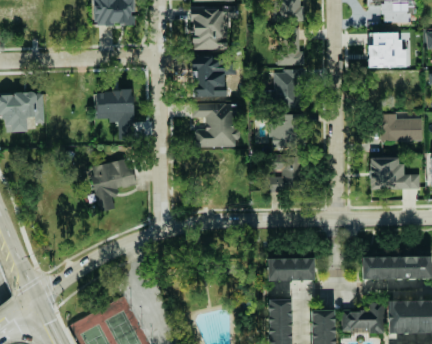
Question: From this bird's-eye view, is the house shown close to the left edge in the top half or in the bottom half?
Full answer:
Seen from above, the house shown close to the left edge lies in the top half of the view.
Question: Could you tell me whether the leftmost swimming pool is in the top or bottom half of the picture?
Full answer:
The leftmost swimming pool sits in the bottom half of the picture.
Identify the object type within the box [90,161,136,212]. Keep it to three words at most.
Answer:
house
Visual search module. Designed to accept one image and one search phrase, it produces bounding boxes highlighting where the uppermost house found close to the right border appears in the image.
[382,0,415,23]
